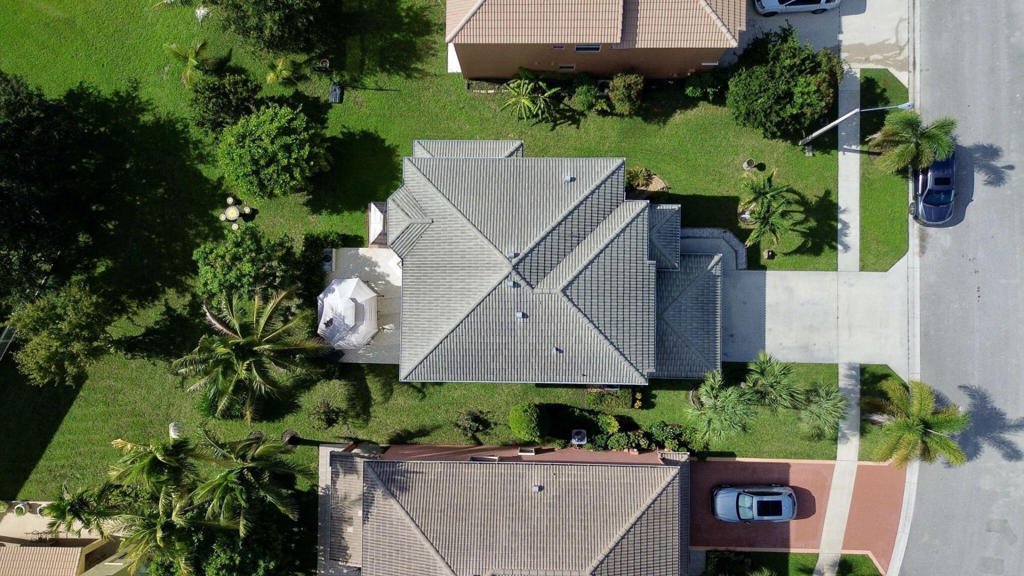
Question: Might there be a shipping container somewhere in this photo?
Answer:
No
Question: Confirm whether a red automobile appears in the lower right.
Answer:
No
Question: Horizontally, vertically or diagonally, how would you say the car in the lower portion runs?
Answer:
horizontally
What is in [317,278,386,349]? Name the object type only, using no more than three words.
gazebo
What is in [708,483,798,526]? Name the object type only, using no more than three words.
car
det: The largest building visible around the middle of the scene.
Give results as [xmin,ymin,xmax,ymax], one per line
[385,138,724,384]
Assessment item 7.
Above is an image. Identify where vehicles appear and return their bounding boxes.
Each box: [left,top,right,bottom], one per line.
[911,144,962,227]
[708,483,798,526]
[750,0,839,15]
